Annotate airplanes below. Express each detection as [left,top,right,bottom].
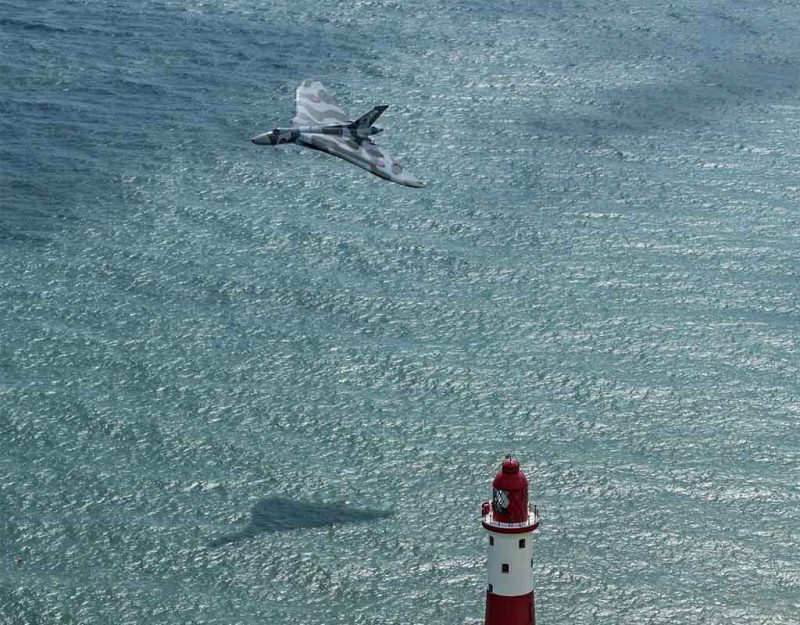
[252,80,427,187]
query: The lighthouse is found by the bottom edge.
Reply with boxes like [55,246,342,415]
[481,454,539,625]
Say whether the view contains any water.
Yes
